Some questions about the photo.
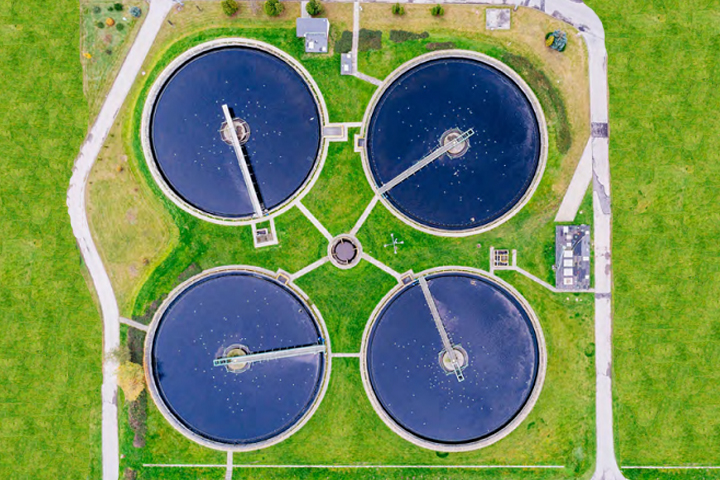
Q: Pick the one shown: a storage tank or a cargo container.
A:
storage tank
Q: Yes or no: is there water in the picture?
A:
Yes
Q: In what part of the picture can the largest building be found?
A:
right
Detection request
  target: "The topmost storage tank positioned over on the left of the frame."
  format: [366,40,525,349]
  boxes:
[146,43,322,219]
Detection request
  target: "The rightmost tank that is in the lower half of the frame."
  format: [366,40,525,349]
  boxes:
[366,272,542,448]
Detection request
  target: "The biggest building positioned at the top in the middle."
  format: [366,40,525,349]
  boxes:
[297,15,330,53]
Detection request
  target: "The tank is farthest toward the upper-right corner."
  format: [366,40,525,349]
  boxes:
[368,55,544,231]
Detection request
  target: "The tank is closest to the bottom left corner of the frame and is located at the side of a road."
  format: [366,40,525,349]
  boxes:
[148,271,324,447]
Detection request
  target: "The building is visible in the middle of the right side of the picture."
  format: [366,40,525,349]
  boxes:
[555,225,591,290]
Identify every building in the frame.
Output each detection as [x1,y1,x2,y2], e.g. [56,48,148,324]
[340,53,352,76]
[297,15,330,53]
[555,225,591,290]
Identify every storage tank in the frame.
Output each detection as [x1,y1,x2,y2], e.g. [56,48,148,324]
[148,271,324,447]
[368,55,544,231]
[366,272,542,448]
[146,43,322,219]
